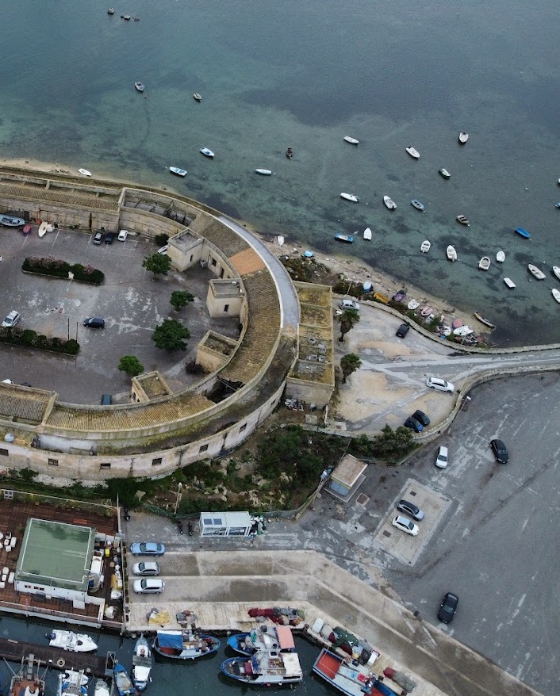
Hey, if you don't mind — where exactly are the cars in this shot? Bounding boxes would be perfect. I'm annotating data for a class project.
[118,231,129,243]
[132,560,161,578]
[437,591,459,624]
[407,409,434,429]
[488,439,508,464]
[434,444,451,470]
[133,577,165,595]
[83,317,105,330]
[93,231,104,245]
[131,540,165,557]
[394,323,409,339]
[400,417,427,437]
[104,231,116,244]
[3,310,20,326]
[395,497,426,522]
[100,389,113,407]
[425,376,454,395]
[391,514,420,539]
[338,301,360,314]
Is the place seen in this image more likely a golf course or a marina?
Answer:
marina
